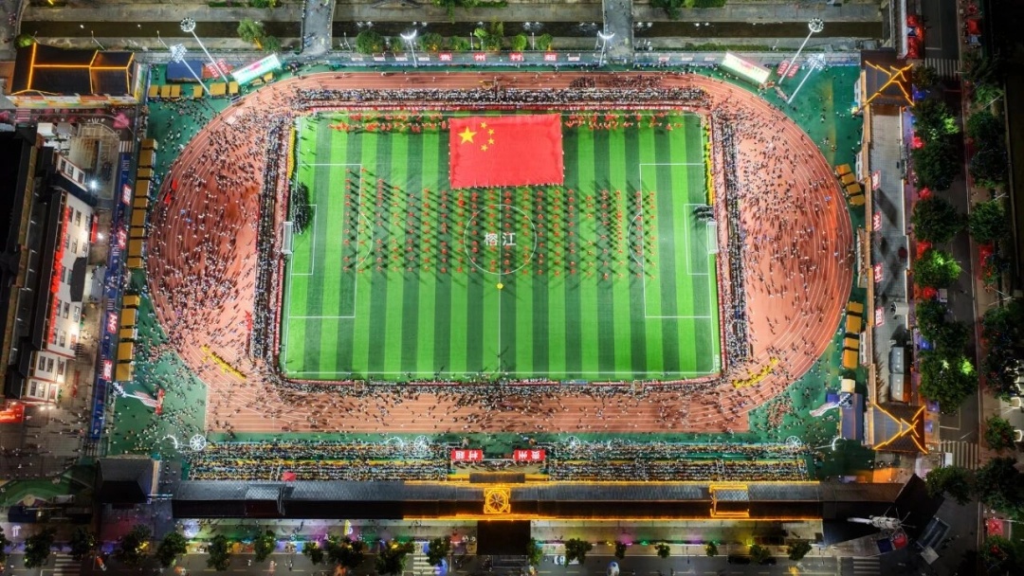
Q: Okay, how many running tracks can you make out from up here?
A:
1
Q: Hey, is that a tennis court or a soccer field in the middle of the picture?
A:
soccer field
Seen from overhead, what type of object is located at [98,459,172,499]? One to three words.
building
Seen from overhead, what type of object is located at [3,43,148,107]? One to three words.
building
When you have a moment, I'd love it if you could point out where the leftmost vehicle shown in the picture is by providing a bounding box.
[93,554,105,570]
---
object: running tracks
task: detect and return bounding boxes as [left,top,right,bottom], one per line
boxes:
[151,72,849,436]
